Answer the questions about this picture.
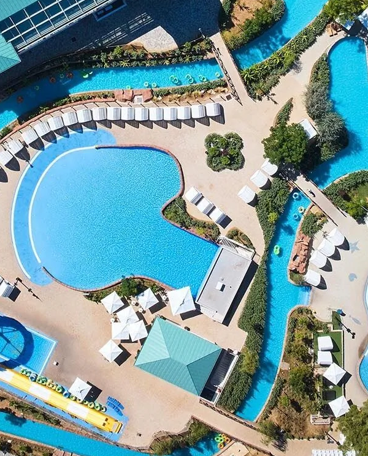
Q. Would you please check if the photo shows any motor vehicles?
No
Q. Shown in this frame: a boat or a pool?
pool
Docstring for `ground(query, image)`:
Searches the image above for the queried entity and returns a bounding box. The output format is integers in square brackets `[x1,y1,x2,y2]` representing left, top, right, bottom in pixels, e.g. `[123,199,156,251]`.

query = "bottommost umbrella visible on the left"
[69,376,92,399]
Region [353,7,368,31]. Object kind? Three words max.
umbrella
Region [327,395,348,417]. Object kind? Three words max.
umbrella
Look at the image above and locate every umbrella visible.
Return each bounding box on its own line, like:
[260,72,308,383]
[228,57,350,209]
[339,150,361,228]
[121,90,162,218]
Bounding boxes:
[137,286,160,310]
[327,395,348,417]
[322,361,345,384]
[69,376,92,399]
[128,320,147,340]
[100,291,124,315]
[116,301,140,326]
[112,322,129,340]
[353,7,368,31]
[168,287,194,314]
[99,338,123,363]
